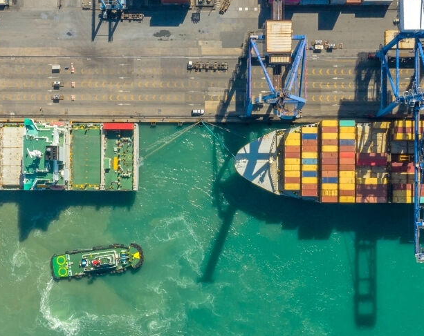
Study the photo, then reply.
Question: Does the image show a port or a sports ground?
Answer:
port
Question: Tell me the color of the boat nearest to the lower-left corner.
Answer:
green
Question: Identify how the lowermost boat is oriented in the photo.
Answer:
horizontally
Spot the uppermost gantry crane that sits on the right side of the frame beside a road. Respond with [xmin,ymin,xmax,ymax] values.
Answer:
[236,0,307,118]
